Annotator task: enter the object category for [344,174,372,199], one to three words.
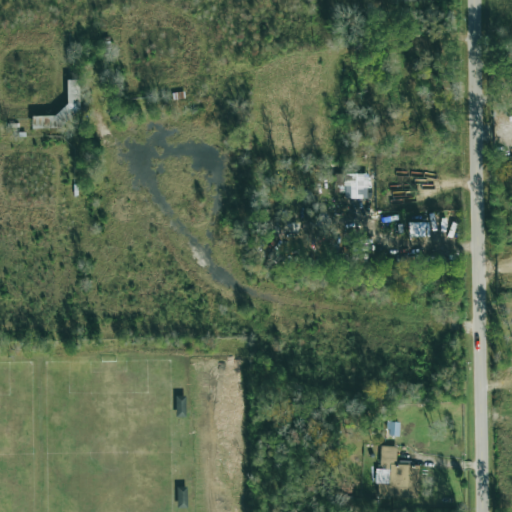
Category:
house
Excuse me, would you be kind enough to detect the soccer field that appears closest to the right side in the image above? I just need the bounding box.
[46,362,172,512]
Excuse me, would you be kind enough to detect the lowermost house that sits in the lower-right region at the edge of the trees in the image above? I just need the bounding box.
[376,446,410,490]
